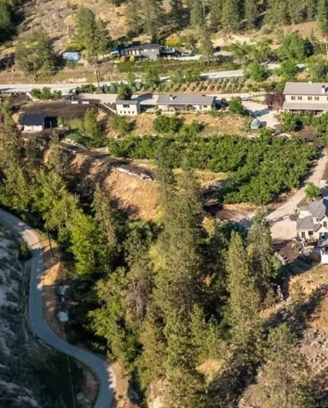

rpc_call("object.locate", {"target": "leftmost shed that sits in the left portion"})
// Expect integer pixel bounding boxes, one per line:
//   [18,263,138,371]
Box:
[21,116,59,131]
